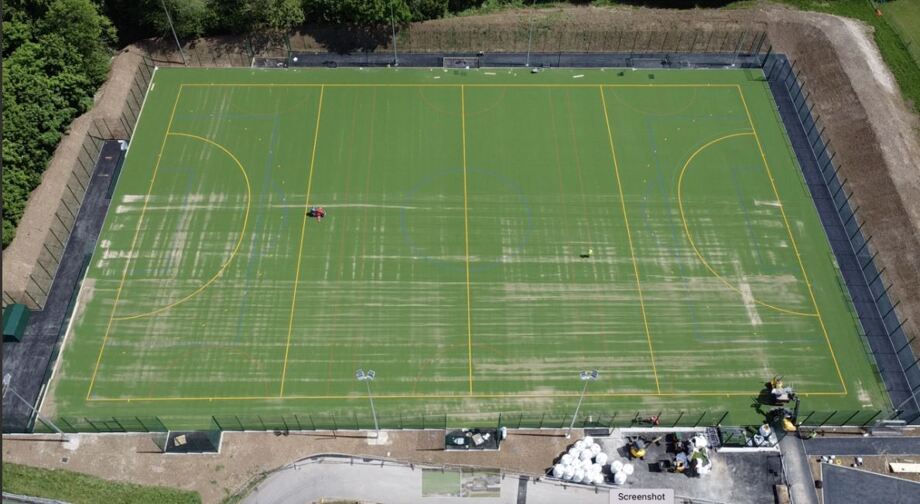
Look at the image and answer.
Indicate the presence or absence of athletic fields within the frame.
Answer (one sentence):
Yes, there is an athletic field in the image.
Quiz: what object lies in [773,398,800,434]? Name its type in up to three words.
work vehicle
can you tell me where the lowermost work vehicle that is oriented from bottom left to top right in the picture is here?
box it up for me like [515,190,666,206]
[626,431,661,456]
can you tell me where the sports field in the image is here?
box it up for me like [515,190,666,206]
[34,67,898,431]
